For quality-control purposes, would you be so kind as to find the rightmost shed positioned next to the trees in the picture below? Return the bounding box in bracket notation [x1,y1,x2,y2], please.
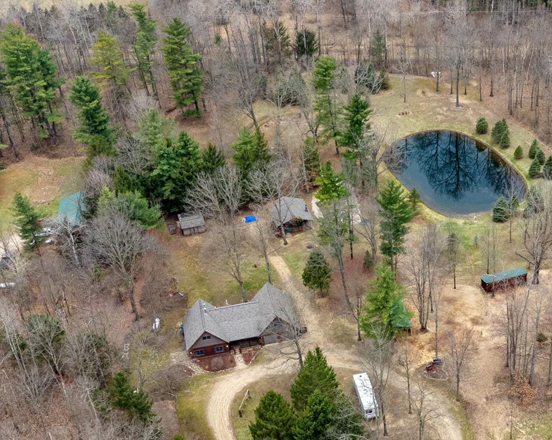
[477,258,530,292]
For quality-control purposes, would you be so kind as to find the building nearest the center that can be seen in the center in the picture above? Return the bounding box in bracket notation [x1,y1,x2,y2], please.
[264,199,311,237]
